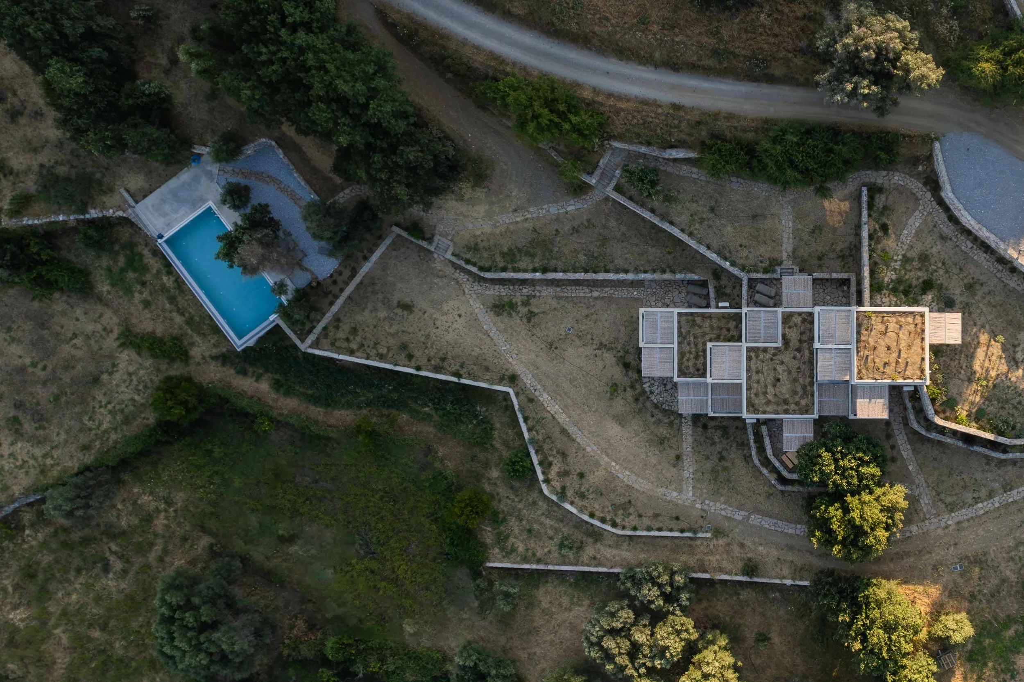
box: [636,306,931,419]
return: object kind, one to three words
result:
house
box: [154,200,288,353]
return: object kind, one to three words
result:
swimming pool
